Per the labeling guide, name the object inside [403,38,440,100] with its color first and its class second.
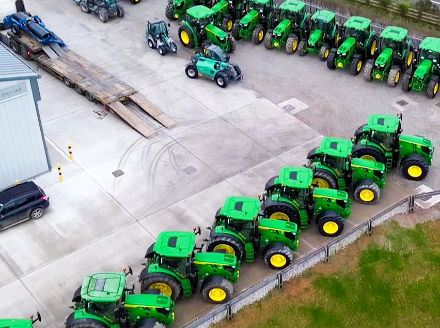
green work vehicle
